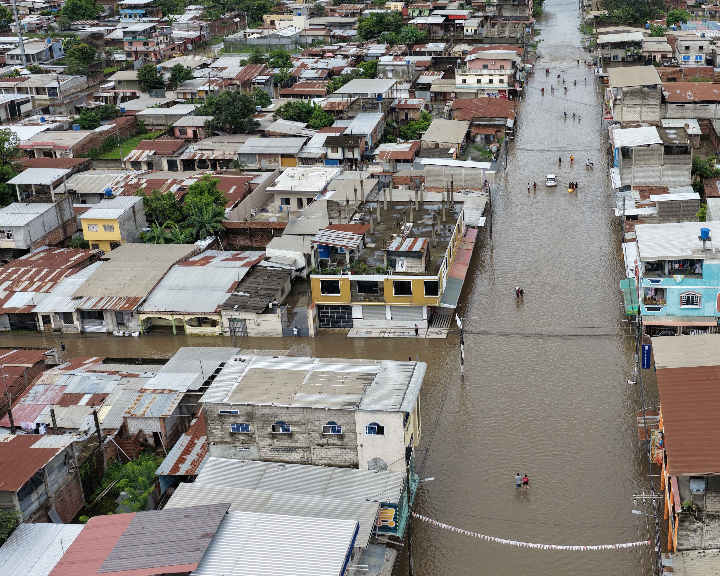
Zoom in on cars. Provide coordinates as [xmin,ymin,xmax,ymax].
[545,173,558,186]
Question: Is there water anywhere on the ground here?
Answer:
Yes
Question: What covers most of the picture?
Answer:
buildings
